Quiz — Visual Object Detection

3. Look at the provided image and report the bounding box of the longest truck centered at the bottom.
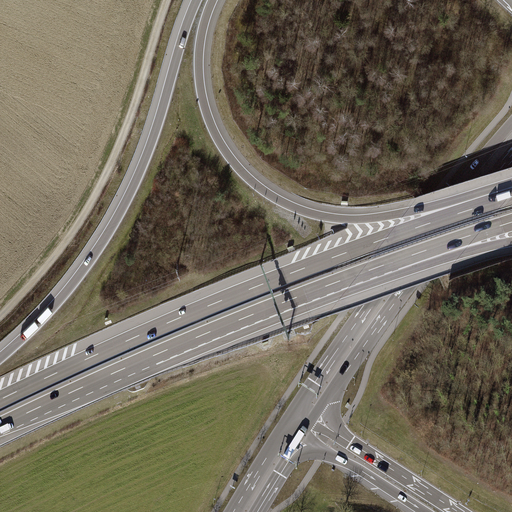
[284,424,308,459]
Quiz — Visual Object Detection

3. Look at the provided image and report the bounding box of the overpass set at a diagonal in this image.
[323,168,512,318]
